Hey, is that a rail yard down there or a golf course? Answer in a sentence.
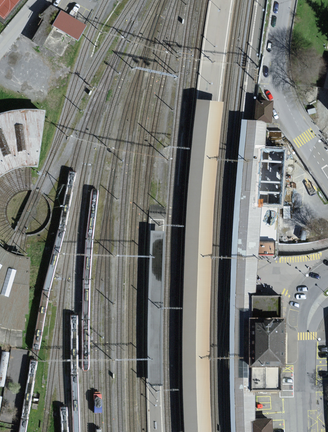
The picture captures a rail yard.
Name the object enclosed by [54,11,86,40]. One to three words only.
building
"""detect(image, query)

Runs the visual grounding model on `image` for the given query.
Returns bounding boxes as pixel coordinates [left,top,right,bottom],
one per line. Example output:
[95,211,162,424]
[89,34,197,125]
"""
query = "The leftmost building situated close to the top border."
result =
[33,4,60,45]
